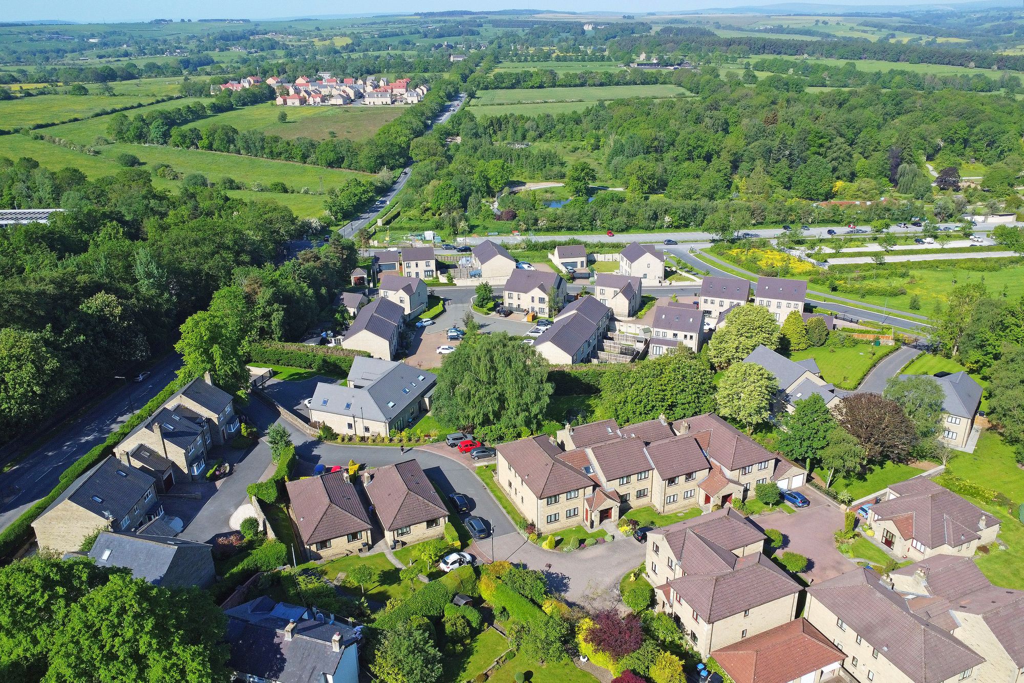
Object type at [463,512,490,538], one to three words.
car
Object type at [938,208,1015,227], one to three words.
building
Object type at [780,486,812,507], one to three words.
car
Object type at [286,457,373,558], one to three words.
house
